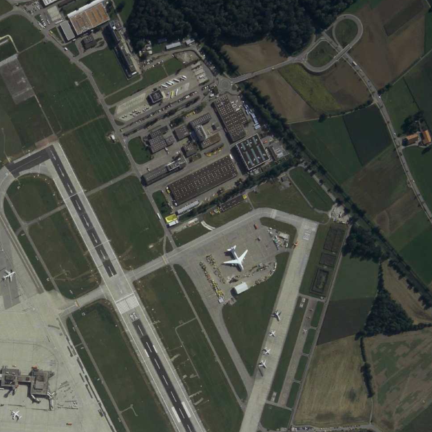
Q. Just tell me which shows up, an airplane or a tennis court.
airplane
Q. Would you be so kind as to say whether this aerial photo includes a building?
Yes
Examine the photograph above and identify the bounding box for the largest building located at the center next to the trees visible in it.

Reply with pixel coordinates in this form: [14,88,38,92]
[168,155,238,204]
